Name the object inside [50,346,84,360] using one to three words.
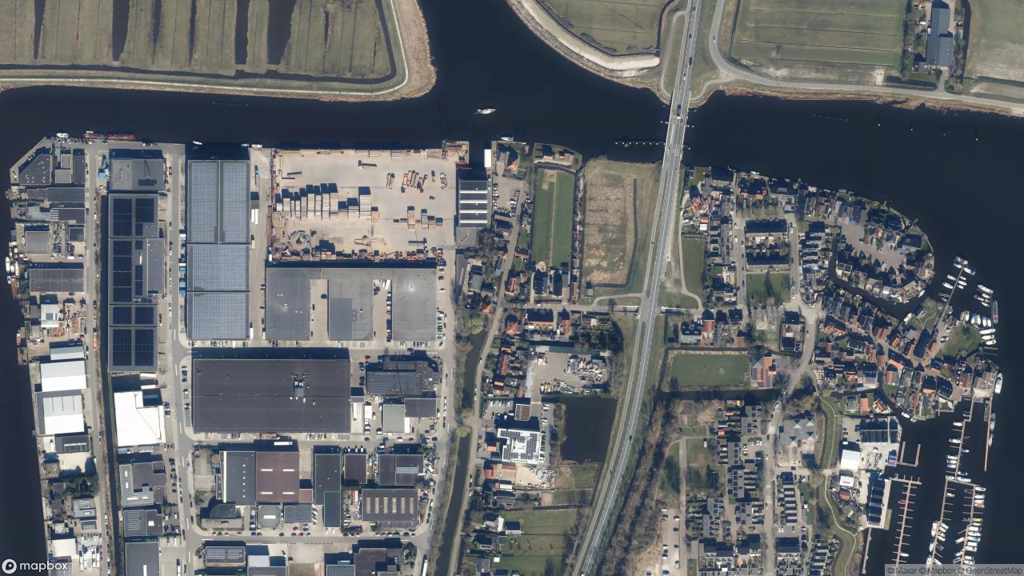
shed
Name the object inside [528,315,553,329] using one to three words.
house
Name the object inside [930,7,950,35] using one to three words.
barn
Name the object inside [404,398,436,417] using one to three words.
building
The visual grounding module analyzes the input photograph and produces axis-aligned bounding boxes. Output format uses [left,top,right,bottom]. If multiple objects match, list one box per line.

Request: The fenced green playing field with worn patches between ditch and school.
[670,354,750,387]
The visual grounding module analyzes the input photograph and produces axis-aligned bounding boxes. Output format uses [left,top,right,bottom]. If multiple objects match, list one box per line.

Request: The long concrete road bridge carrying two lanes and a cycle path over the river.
[662,102,687,166]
